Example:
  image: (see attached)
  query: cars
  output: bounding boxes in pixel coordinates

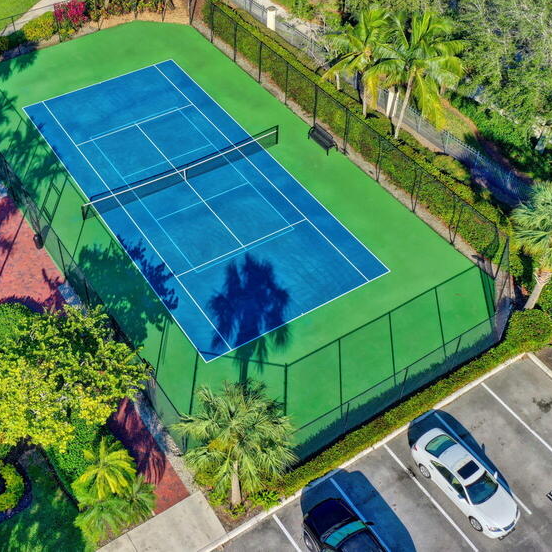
[300,501,380,552]
[410,429,523,538]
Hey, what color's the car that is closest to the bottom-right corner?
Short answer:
white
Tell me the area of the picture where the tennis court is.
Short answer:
center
